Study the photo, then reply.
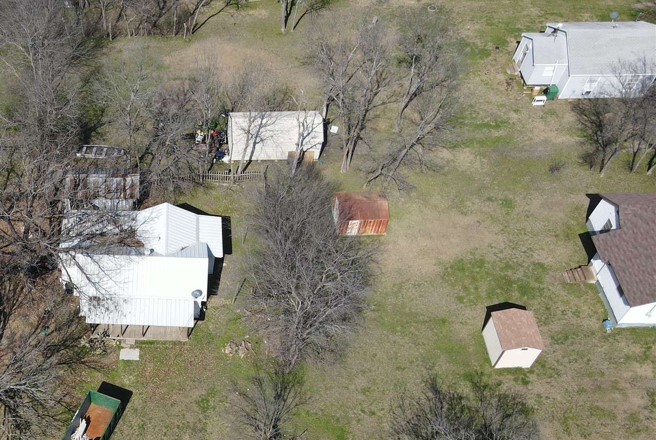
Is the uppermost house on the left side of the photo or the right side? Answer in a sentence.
The uppermost house appears in the right half of the scene.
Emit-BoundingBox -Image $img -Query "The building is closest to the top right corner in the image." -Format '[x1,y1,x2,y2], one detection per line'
[505,3,656,97]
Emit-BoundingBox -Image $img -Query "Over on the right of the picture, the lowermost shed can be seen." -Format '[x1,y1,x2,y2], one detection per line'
[477,307,548,369]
